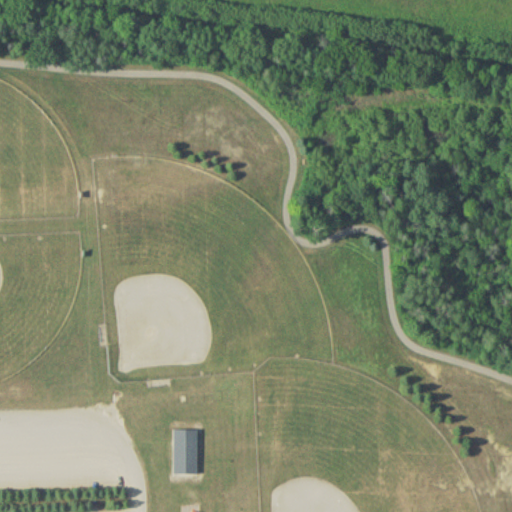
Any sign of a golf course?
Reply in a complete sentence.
No, there appears to be no golf course in this shot.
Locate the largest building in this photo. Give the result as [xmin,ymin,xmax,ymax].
[173,430,198,474]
